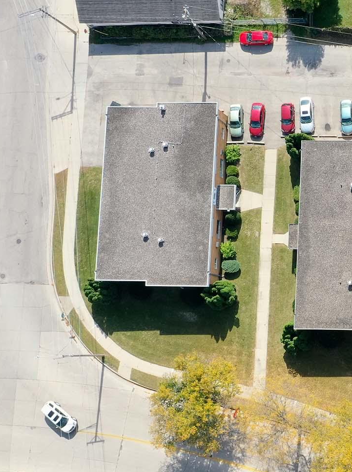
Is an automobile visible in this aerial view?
Yes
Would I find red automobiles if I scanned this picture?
Yes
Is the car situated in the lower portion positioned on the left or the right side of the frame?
left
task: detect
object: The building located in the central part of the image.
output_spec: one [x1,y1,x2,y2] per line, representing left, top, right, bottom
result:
[95,102,242,287]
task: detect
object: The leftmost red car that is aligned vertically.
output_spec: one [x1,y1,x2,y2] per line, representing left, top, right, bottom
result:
[247,102,266,139]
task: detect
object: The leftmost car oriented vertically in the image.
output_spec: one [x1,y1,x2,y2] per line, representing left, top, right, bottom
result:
[227,103,247,139]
